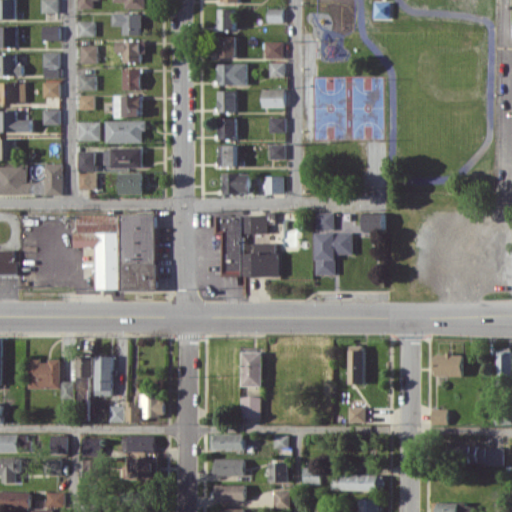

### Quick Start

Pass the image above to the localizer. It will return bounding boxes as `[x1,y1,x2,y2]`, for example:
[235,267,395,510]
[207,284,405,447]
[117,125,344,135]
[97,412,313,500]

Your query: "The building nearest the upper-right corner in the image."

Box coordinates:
[372,0,396,22]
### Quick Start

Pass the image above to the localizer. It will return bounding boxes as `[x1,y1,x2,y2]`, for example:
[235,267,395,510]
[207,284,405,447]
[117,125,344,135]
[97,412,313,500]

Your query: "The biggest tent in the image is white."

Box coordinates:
[286,230,303,252]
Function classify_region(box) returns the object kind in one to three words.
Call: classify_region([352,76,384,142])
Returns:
basketball court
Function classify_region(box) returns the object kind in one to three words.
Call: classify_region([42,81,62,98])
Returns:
building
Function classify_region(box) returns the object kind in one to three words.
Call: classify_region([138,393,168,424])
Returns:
house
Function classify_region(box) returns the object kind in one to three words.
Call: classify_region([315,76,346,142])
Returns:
basketball court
